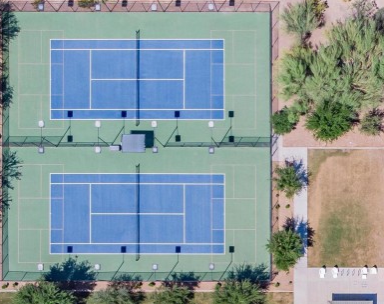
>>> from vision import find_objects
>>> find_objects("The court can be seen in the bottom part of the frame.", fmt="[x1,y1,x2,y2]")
[1,147,271,279]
